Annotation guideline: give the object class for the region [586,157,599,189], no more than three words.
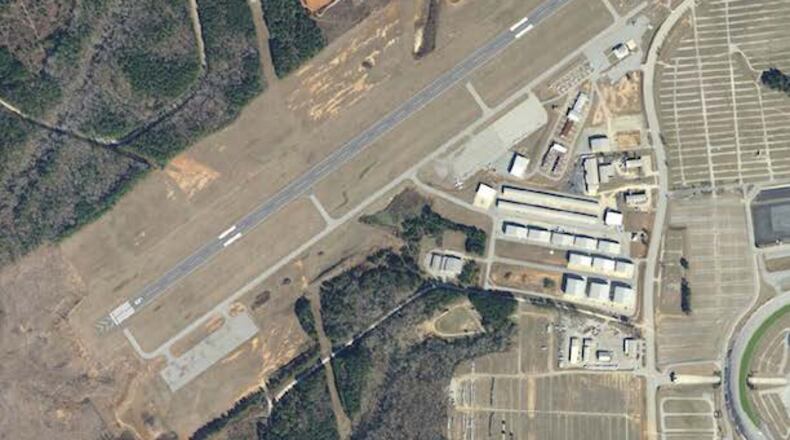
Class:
building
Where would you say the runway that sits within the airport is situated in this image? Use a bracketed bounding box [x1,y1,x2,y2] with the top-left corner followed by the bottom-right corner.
[98,0,575,333]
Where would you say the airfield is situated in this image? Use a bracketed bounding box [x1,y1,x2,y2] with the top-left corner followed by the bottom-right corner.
[98,0,656,393]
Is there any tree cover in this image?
Yes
